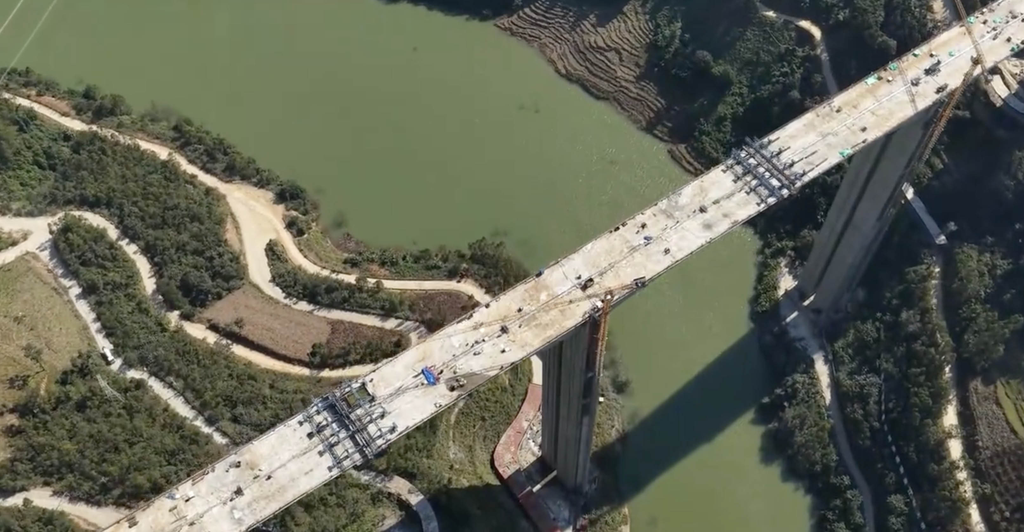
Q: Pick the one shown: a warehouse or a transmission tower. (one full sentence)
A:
The image shows a transmission tower.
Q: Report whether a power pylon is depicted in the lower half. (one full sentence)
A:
Yes, the scene does show a power pylon in the lower half.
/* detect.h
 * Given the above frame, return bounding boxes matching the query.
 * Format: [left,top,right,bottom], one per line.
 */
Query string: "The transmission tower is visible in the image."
[95,373,127,400]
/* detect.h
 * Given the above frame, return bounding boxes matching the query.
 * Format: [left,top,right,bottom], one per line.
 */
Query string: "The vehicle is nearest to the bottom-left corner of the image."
[100,345,116,362]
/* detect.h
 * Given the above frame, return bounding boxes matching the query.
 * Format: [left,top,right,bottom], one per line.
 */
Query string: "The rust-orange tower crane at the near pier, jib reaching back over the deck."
[435,283,650,397]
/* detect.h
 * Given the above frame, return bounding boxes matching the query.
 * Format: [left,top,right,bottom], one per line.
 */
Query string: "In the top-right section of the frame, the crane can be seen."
[895,0,987,177]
